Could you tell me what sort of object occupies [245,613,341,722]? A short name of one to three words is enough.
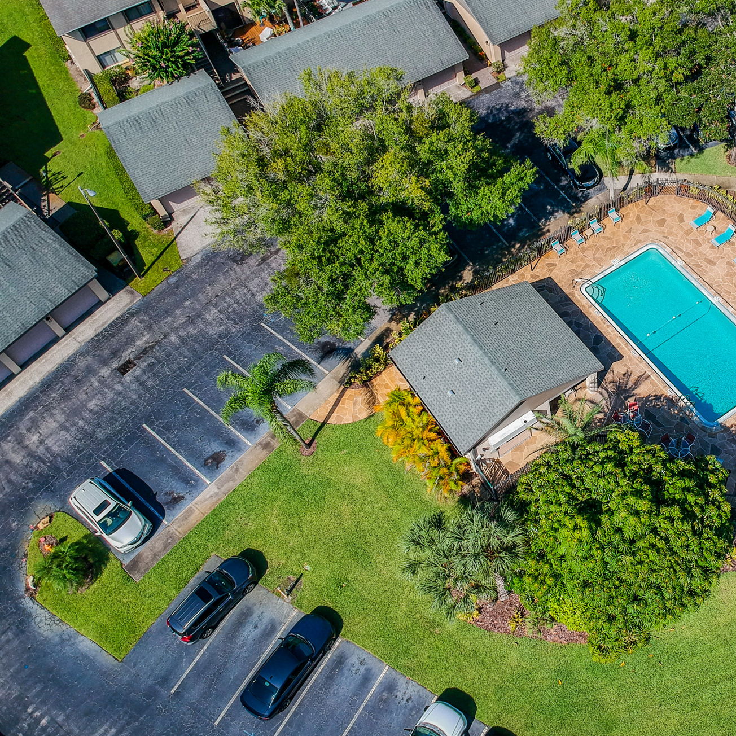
car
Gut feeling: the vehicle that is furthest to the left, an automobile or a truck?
automobile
